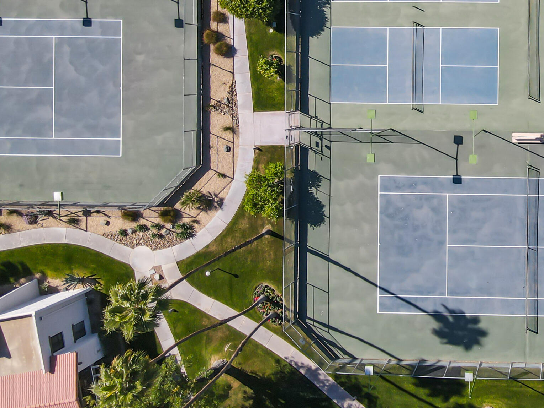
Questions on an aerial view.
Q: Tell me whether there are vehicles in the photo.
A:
No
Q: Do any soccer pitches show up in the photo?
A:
No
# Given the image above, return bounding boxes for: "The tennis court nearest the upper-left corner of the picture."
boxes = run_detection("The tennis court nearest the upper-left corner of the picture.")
[0,19,121,156]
